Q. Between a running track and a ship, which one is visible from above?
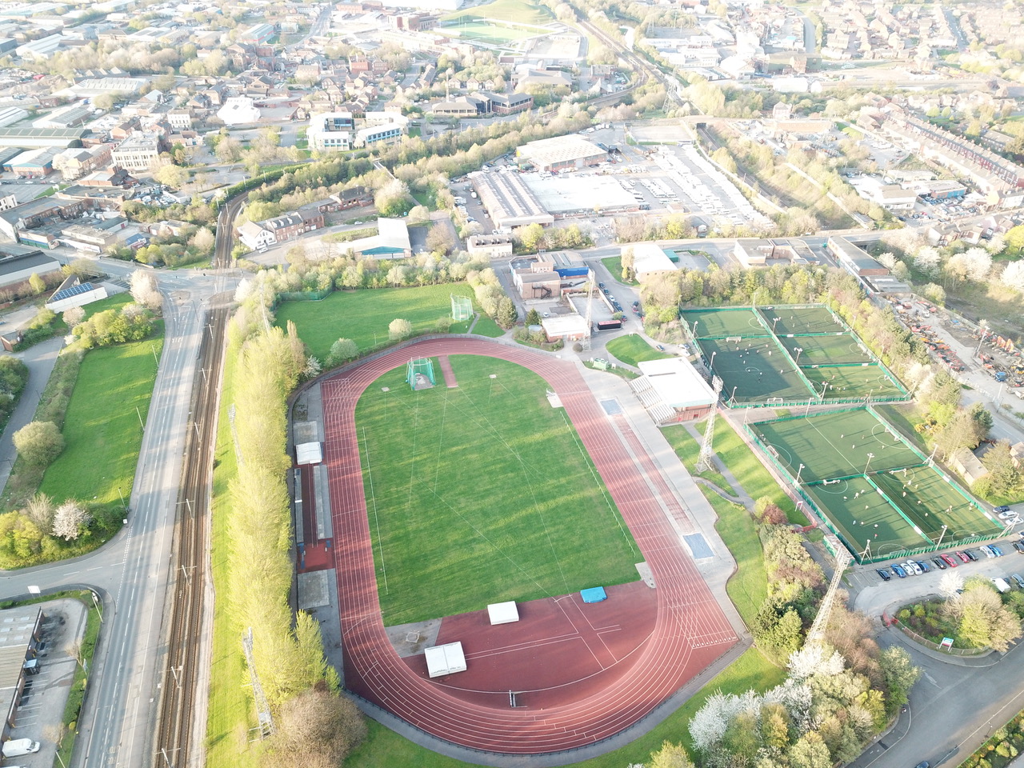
running track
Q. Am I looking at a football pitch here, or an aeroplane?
football pitch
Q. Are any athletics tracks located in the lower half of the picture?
Yes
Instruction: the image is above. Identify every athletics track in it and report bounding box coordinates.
[319,336,743,753]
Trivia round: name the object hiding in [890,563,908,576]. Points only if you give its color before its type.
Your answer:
blue vehicle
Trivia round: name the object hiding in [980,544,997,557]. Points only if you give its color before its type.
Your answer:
white vehicle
